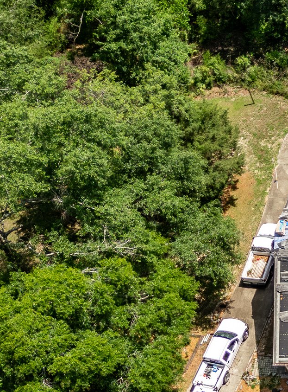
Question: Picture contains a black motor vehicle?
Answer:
No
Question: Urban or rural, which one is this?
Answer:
rural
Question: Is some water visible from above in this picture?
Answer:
No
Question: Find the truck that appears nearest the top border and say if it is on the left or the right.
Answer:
right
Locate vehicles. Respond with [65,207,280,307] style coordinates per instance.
[242,225,277,290]
[191,316,244,392]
